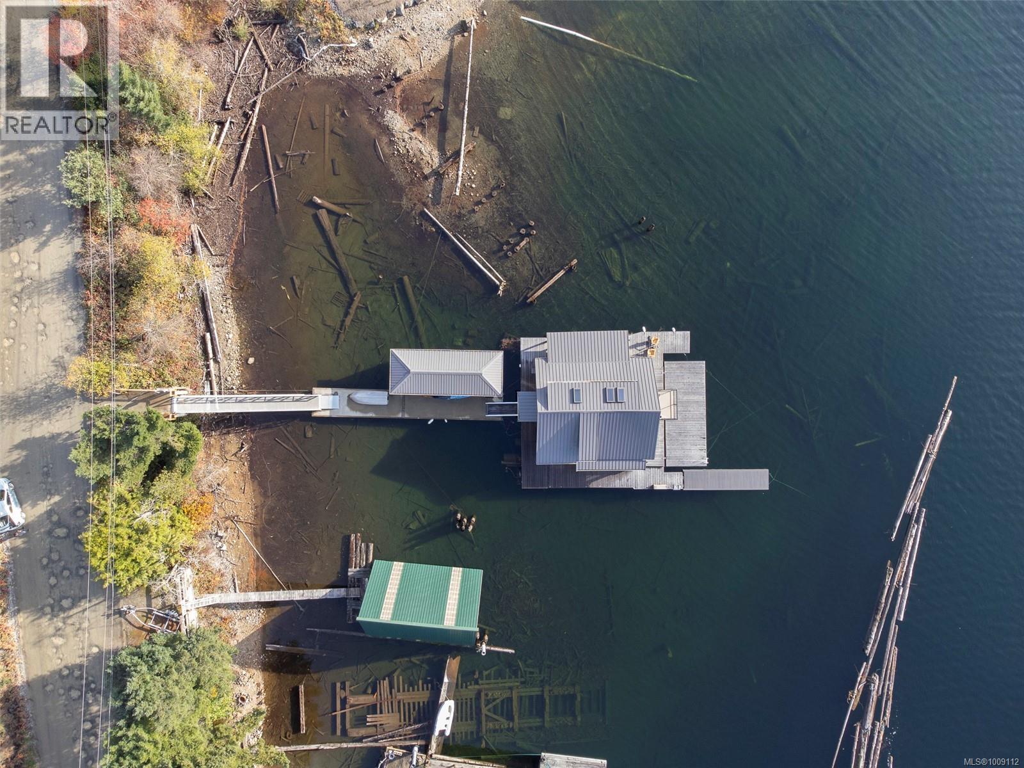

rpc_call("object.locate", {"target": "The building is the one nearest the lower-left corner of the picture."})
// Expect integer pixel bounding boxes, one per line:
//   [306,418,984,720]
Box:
[356,560,485,647]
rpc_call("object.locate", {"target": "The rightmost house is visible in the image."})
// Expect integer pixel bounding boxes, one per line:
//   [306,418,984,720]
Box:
[517,329,690,490]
